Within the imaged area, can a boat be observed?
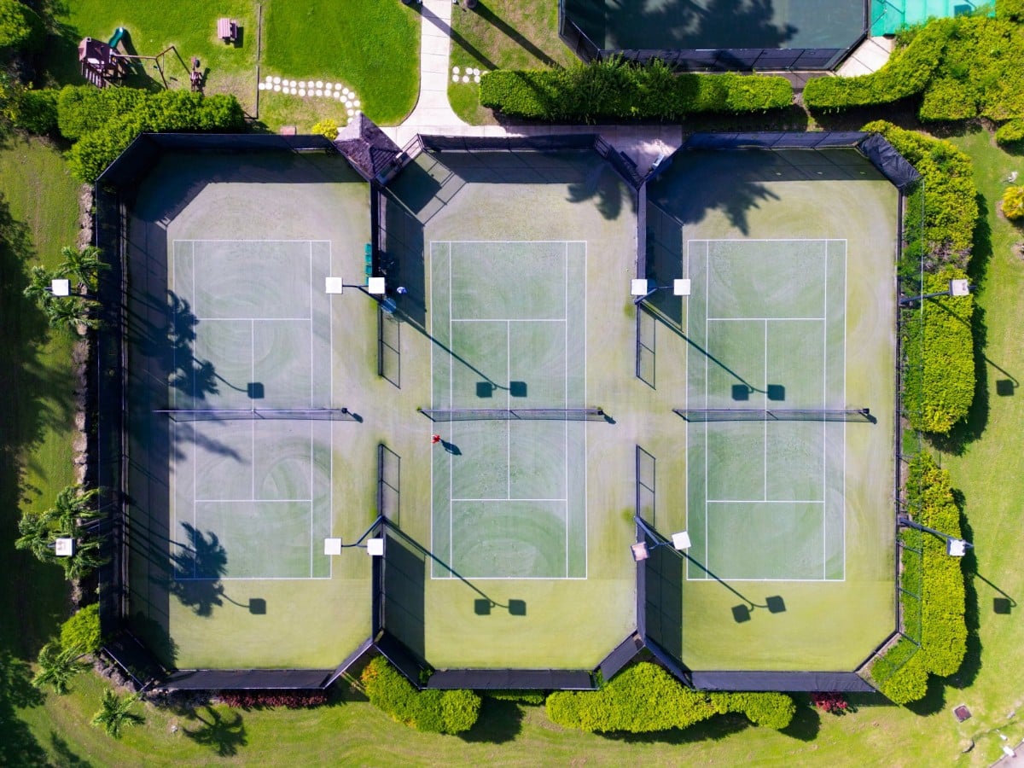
No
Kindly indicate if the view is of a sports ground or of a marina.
sports ground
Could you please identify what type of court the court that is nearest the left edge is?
tennis court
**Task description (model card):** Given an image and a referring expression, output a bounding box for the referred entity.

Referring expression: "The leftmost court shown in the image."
[121,149,381,670]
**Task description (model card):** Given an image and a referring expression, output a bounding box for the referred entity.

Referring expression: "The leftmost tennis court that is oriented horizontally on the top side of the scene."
[561,0,867,70]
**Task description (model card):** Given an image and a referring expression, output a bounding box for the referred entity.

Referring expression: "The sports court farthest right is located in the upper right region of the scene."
[869,0,978,36]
